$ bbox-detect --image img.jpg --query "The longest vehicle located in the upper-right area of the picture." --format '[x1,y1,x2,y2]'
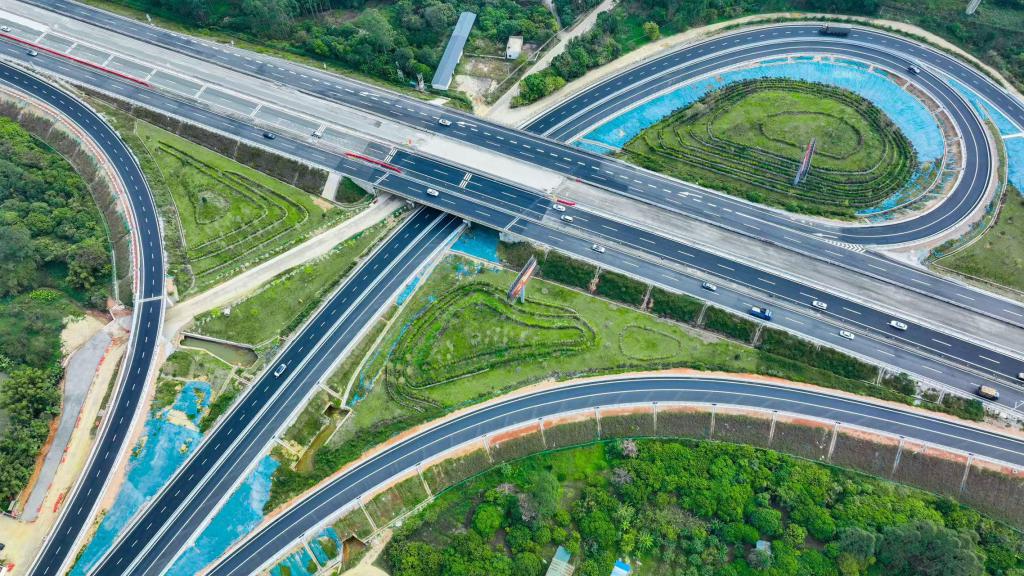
[817,25,852,37]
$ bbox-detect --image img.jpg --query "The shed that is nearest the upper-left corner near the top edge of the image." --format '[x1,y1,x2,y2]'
[432,12,476,94]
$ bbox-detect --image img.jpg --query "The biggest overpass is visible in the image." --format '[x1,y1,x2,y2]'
[355,94,633,265]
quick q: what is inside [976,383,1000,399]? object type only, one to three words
vehicle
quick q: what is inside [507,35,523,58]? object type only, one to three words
house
